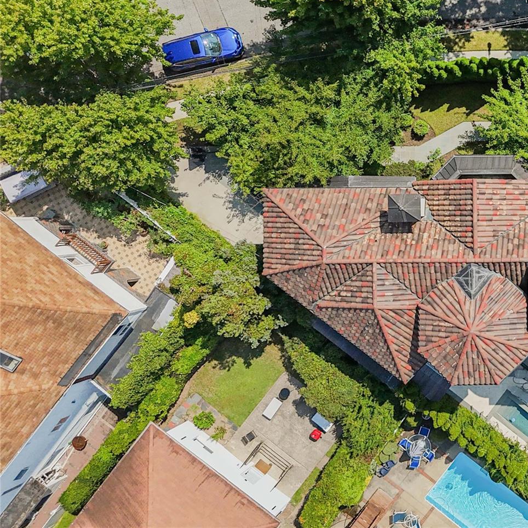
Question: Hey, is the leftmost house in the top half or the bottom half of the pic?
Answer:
bottom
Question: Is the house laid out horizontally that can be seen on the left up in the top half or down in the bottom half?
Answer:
bottom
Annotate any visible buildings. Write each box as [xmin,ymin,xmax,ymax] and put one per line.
[65,421,306,528]
[260,154,528,402]
[0,191,147,528]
